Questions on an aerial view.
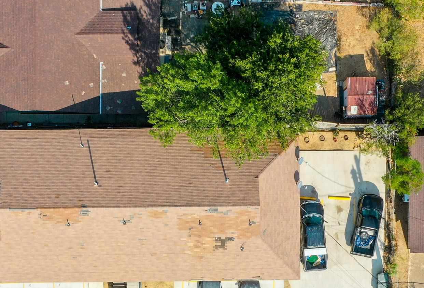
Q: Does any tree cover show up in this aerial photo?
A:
Yes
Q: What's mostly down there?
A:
buildings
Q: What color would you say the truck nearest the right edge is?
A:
black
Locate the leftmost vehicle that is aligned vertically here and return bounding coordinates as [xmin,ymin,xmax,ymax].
[300,200,329,265]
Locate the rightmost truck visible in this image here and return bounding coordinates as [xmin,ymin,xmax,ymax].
[349,192,384,259]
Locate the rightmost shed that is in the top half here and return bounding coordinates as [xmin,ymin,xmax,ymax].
[343,77,377,118]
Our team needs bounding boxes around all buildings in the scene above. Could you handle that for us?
[343,77,377,118]
[0,129,325,283]
[0,0,161,114]
[401,135,424,253]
